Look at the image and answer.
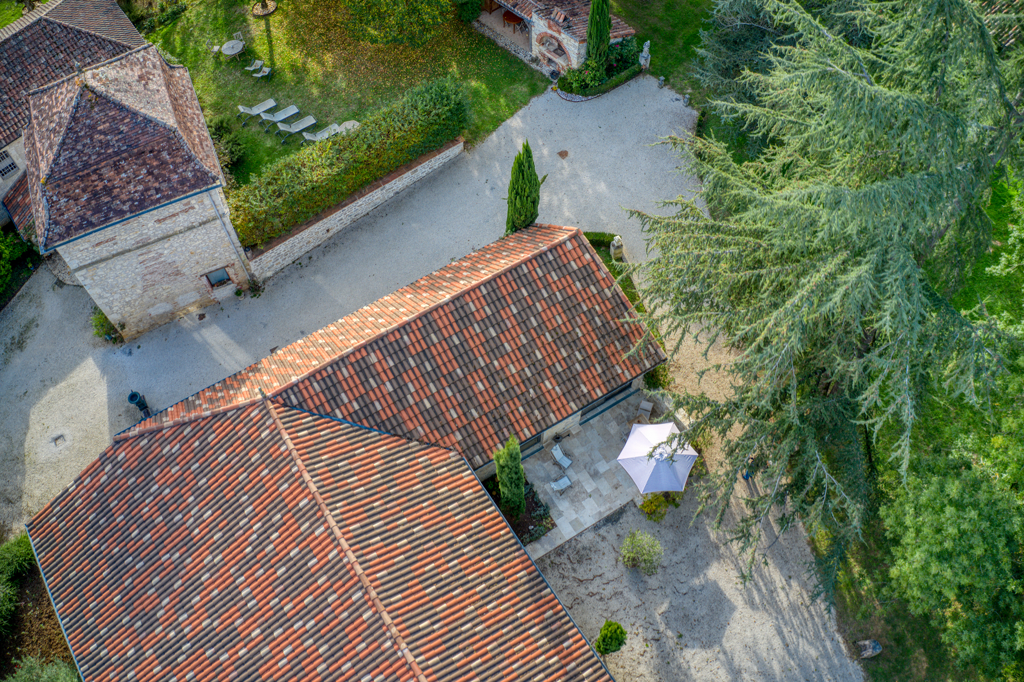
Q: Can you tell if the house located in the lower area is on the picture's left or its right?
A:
left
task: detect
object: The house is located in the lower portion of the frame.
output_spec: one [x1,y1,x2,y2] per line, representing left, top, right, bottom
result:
[23,220,669,682]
